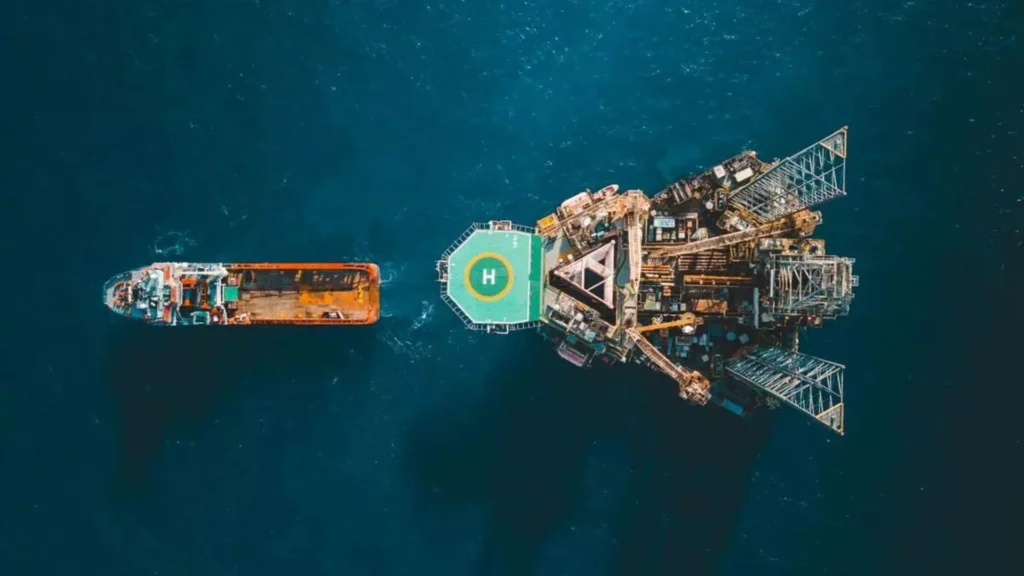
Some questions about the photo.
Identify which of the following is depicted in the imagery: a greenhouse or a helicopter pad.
helicopter pad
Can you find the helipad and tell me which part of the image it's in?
center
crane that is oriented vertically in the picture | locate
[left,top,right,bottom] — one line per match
[609,189,653,299]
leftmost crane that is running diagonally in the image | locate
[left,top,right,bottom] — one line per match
[619,322,717,408]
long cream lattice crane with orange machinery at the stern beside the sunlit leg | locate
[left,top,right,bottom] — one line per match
[638,205,826,268]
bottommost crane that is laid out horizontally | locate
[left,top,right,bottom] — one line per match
[637,313,703,335]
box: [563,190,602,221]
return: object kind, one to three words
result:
boat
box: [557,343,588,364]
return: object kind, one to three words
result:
boat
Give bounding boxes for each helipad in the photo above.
[437,220,546,333]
